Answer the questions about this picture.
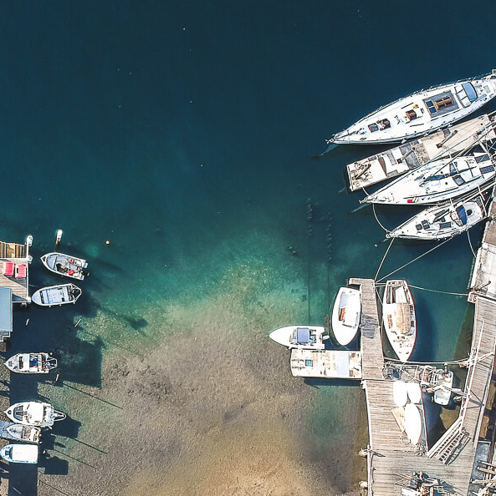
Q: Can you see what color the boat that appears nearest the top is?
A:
white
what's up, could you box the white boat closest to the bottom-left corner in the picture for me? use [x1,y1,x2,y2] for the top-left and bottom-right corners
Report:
[0,443,39,465]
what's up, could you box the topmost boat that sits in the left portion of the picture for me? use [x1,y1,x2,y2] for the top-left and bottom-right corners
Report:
[41,252,95,283]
